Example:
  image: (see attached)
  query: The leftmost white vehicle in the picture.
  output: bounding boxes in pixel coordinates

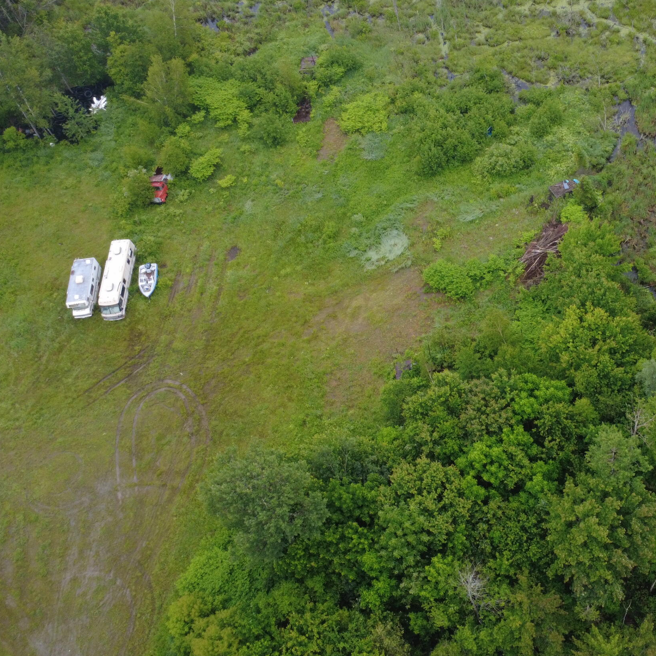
[68,258,103,324]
